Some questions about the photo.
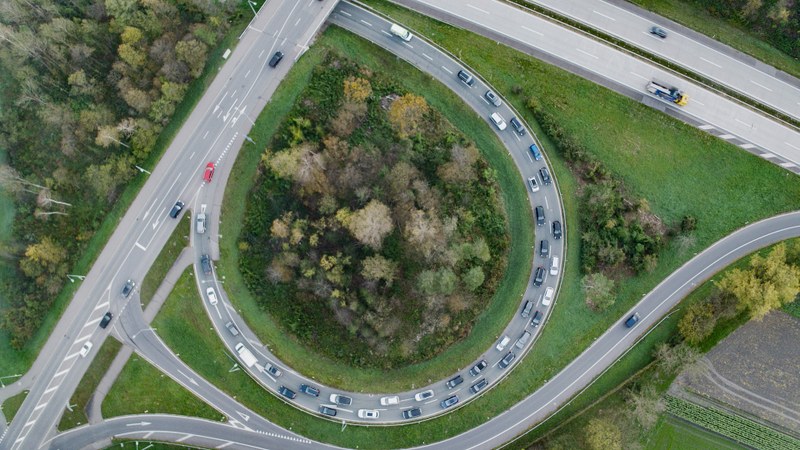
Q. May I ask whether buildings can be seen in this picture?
No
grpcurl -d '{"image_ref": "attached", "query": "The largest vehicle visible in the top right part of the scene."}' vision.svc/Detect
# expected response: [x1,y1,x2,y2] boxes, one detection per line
[644,80,691,107]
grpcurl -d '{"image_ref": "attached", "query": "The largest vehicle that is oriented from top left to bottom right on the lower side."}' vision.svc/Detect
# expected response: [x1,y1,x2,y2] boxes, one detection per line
[234,342,259,371]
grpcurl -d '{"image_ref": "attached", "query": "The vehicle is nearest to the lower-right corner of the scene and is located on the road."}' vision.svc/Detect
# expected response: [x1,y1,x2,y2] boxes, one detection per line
[623,311,640,328]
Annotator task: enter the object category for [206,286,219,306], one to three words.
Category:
vehicle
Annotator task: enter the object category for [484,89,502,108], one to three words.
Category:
car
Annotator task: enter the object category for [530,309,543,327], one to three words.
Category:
vehicle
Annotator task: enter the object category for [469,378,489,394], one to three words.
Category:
car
